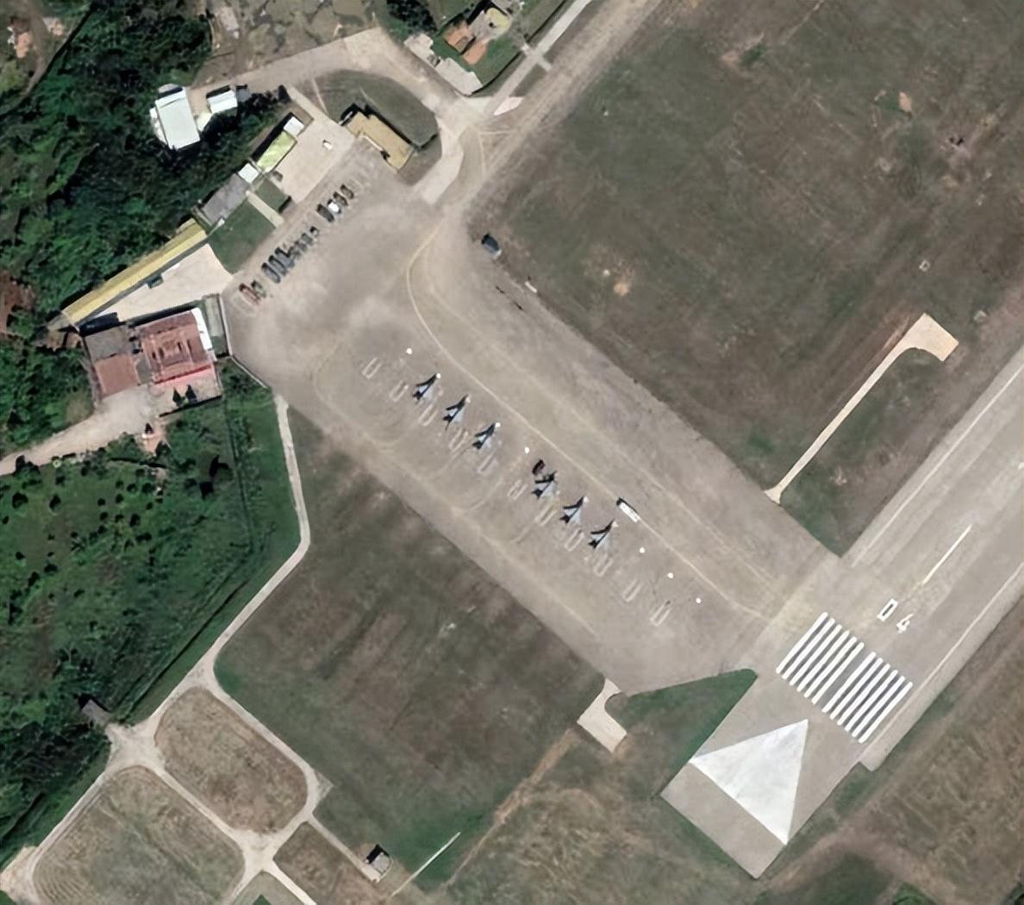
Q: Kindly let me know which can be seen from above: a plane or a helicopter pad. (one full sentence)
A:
I can see a plane in this picture.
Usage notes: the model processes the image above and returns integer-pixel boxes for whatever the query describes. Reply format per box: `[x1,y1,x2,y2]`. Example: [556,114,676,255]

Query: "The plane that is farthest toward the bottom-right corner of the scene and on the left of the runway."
[589,521,614,550]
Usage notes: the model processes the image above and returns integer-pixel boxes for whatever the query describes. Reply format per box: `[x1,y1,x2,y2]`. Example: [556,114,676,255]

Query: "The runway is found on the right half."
[662,346,1024,877]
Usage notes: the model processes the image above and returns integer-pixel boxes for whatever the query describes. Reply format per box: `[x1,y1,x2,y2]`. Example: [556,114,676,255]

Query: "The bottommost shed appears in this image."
[363,854,392,879]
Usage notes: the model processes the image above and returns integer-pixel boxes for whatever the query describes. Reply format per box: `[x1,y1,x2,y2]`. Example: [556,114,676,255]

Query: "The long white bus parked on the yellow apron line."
[618,502,641,523]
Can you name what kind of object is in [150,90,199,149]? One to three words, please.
shed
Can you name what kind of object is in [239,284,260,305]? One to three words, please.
truck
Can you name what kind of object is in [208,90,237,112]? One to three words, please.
house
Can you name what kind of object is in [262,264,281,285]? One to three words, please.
vehicle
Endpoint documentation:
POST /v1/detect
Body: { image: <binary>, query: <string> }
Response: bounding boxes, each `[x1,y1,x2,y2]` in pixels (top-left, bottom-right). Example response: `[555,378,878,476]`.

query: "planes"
[589,521,614,550]
[472,424,498,455]
[559,496,586,528]
[413,376,438,405]
[443,395,469,425]
[531,472,556,502]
